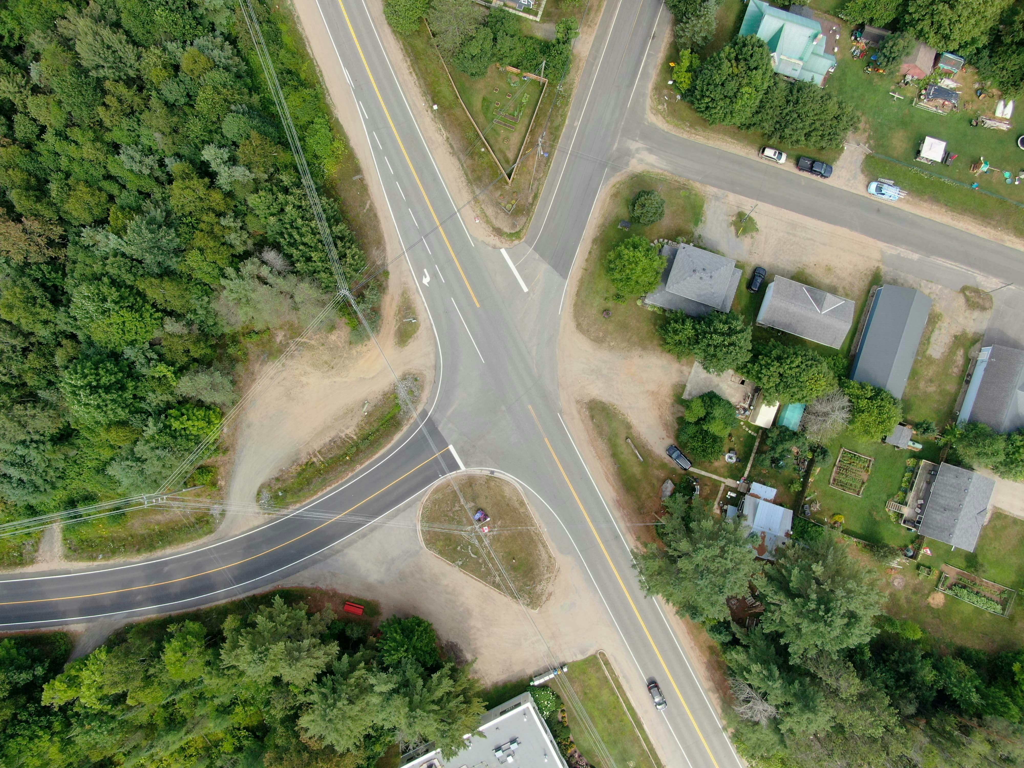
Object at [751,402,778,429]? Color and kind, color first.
white camper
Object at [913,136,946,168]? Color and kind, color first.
white tent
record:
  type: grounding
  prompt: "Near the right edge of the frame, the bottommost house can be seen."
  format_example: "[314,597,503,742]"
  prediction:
[885,460,996,553]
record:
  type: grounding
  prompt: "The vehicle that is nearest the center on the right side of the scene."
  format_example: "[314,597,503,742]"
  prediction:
[666,442,695,474]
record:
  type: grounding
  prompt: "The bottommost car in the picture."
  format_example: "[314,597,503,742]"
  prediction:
[645,676,669,713]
